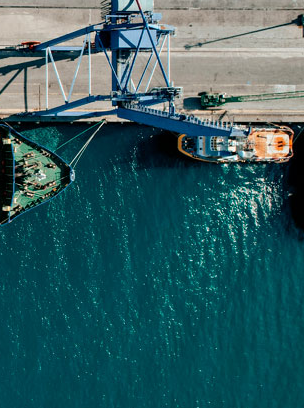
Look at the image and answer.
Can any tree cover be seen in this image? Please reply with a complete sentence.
No, no tree cover is visible.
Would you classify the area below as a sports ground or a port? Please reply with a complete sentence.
This looks like a port.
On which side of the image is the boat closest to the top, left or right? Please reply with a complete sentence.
You can find the boat closest to the top on the right side of the picture.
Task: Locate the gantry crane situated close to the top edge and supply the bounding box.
[16,0,248,136]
